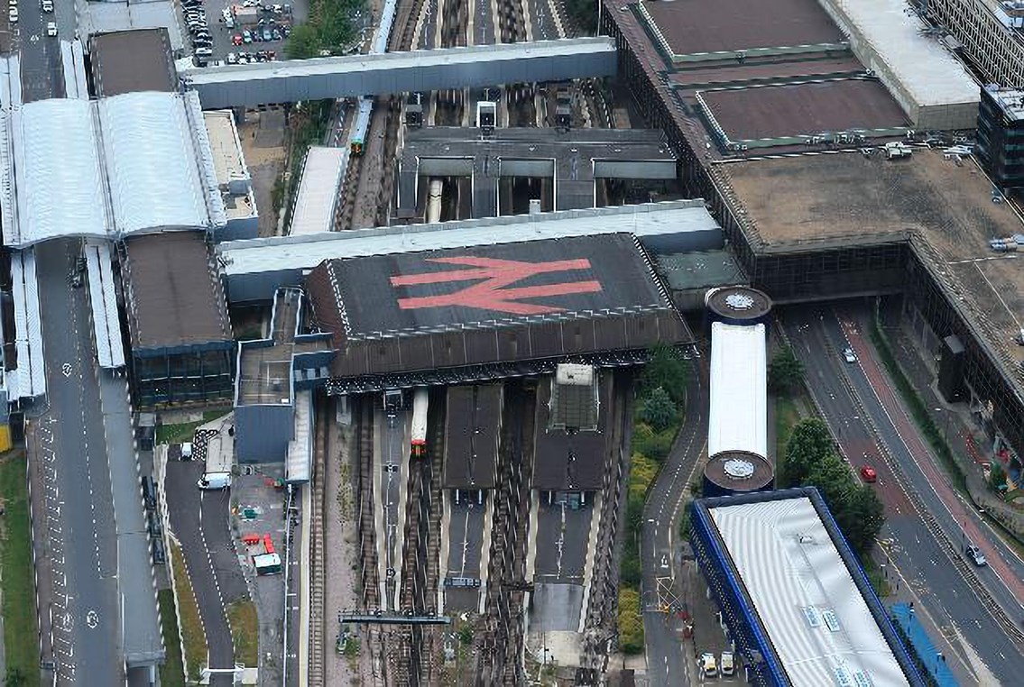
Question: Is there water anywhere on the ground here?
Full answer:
No, there is no water in the image.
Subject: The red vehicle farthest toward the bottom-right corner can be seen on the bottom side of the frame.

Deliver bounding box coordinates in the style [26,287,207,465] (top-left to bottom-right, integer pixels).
[863,462,875,481]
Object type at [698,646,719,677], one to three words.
vehicle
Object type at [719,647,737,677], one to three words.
vehicle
